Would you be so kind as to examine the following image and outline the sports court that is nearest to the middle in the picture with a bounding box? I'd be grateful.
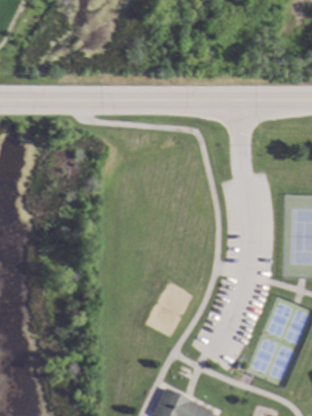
[158,282,193,318]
